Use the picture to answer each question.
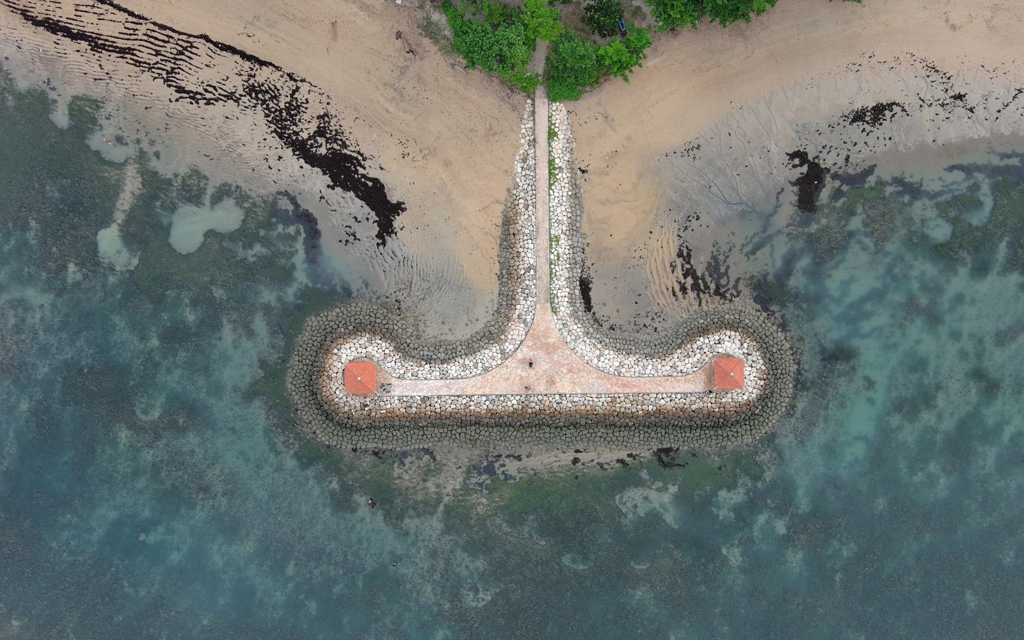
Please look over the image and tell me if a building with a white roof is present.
No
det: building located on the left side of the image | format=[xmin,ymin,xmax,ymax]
[343,361,381,396]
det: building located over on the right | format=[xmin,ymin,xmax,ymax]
[707,356,746,392]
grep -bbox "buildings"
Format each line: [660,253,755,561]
[343,361,381,396]
[707,356,746,392]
